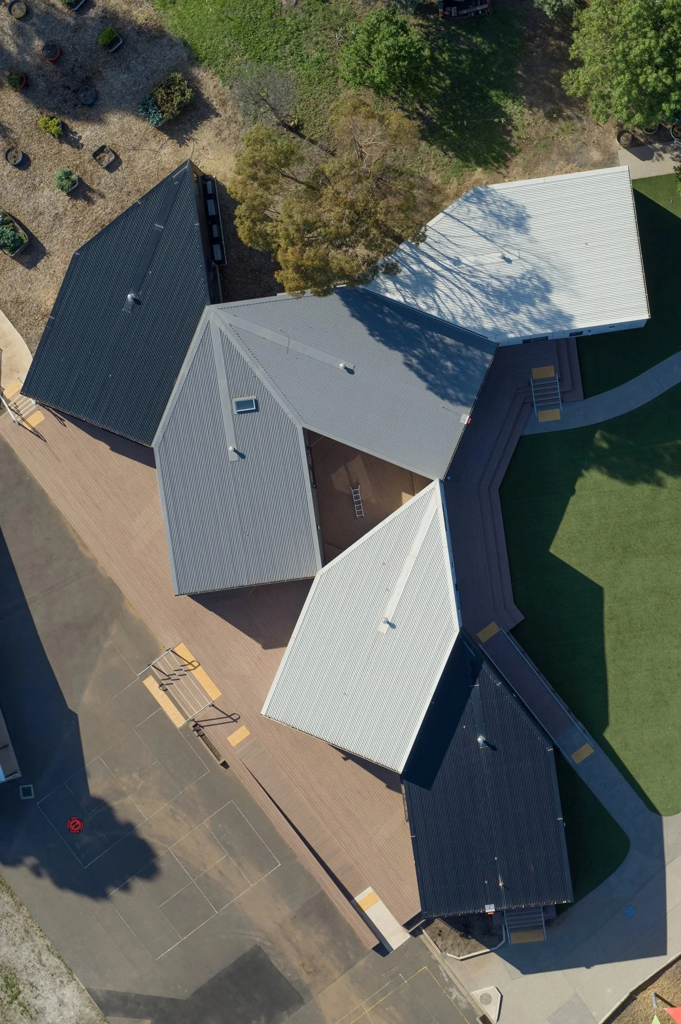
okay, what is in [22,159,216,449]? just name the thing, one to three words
building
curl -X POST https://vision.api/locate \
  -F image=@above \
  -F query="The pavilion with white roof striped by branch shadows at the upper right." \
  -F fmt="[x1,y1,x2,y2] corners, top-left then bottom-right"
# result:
[360,165,653,349]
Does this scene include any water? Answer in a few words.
No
